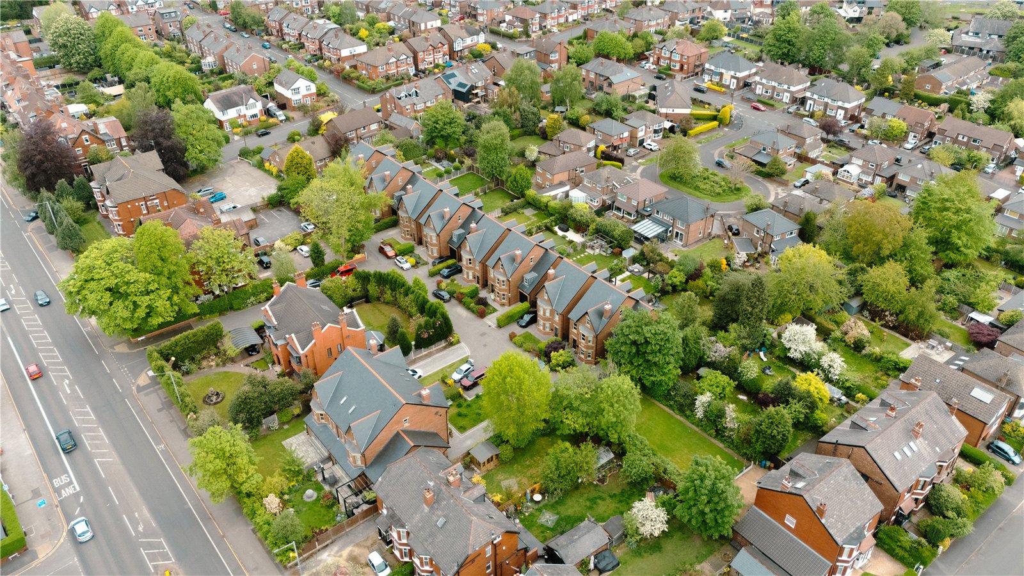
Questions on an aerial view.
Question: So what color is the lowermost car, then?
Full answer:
In this view, the lowermost car is white.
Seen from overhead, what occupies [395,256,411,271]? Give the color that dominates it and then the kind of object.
white car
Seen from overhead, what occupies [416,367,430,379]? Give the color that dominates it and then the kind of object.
white vehicle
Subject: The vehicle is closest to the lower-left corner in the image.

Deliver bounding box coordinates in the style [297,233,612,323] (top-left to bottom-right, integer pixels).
[68,515,94,547]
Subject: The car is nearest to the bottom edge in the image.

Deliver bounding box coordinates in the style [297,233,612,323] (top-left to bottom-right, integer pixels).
[364,545,392,576]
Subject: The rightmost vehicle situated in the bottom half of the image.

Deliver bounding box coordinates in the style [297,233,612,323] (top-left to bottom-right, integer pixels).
[987,439,1023,465]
